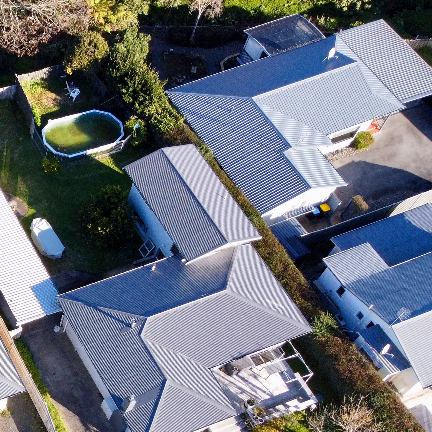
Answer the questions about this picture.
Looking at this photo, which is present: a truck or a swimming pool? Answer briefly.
swimming pool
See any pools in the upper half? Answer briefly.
Yes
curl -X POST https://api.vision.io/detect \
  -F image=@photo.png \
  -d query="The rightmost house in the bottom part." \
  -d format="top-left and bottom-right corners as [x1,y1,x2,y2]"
[307,203,432,398]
